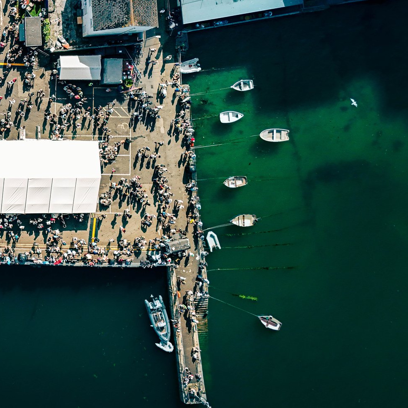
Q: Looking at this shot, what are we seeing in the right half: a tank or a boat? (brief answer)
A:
boat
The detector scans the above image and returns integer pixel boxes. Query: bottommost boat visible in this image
[153,339,173,354]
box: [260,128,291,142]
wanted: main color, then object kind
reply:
white boat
